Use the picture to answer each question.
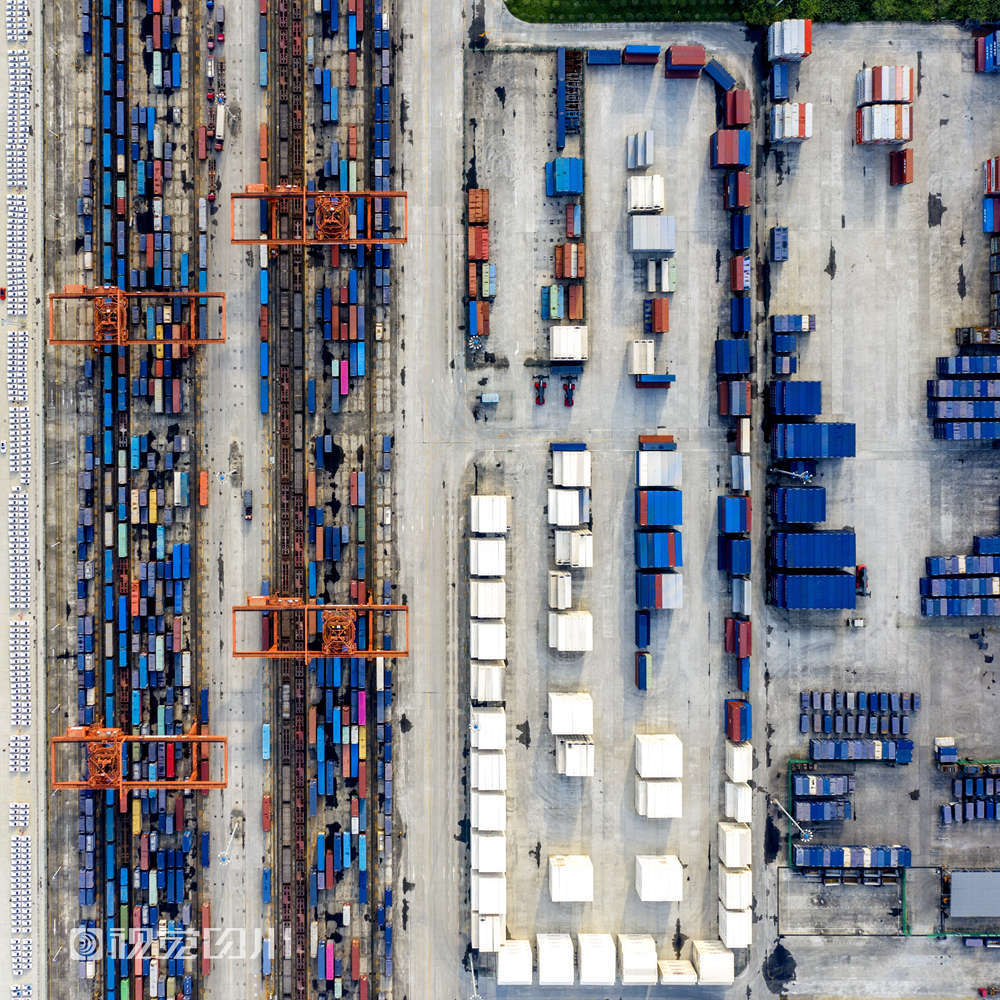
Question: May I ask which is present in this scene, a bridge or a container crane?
container crane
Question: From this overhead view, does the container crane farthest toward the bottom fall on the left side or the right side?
left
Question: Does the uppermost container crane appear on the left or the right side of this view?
left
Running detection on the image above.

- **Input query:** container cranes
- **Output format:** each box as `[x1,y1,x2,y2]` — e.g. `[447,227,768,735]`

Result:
[49,284,227,356]
[231,184,407,259]
[51,716,229,796]
[232,589,409,665]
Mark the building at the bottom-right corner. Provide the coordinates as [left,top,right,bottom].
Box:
[944,865,1000,917]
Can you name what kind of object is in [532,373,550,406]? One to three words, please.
work vehicle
